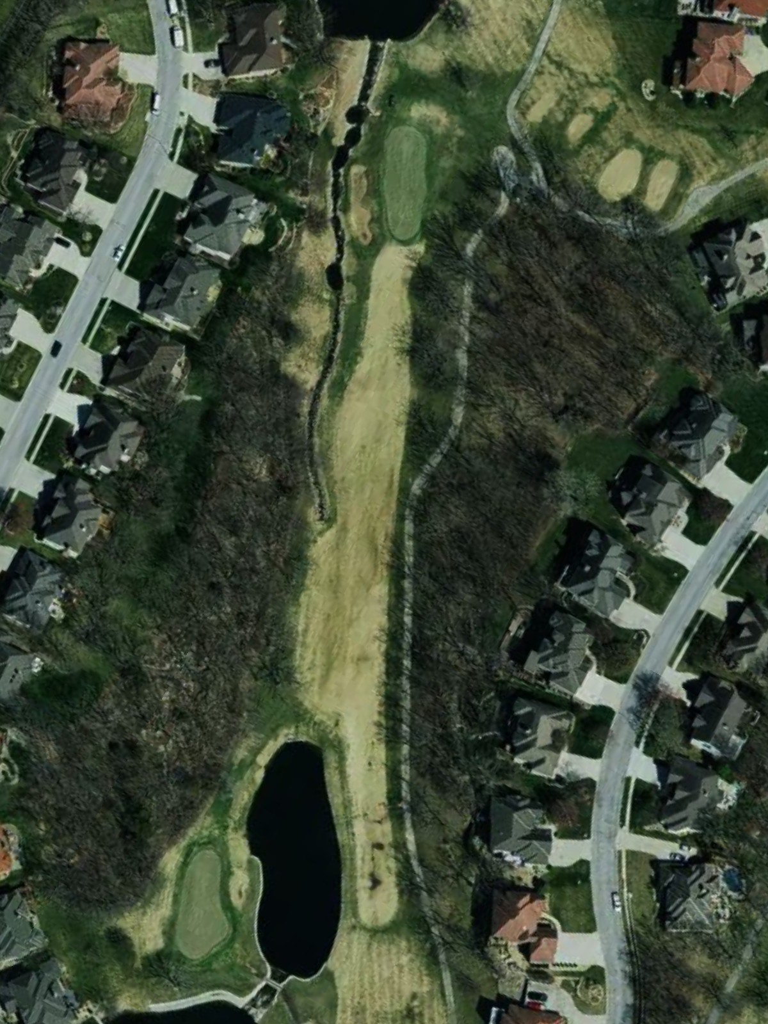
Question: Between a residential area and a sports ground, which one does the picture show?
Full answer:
The area seen from above is a residential area.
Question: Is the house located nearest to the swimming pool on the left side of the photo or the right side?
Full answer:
It is on the right.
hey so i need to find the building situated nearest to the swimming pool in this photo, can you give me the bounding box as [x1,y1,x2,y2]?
[656,854,726,935]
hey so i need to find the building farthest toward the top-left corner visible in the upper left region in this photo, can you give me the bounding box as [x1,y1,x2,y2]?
[59,38,125,118]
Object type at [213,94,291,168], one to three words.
house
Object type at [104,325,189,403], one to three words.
house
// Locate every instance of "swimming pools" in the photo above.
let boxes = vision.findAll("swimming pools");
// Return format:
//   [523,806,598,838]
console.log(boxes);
[723,868,741,893]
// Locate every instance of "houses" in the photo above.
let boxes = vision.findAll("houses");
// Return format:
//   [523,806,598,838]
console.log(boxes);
[685,22,755,97]
[219,3,286,78]
[622,462,694,549]
[657,756,726,838]
[0,281,24,359]
[139,254,222,333]
[491,796,551,864]
[563,529,635,624]
[521,609,597,696]
[0,953,85,1024]
[712,0,768,16]
[59,38,125,118]
[656,854,726,935]
[701,223,768,305]
[0,635,45,712]
[180,177,255,261]
[68,404,150,480]
[493,1007,566,1024]
[0,209,67,293]
[506,698,573,778]
[668,393,742,481]
[490,883,558,966]
[39,474,112,561]
[213,94,291,168]
[0,884,51,963]
[0,549,68,632]
[715,601,768,682]
[104,325,189,403]
[685,677,751,757]
[22,130,87,215]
